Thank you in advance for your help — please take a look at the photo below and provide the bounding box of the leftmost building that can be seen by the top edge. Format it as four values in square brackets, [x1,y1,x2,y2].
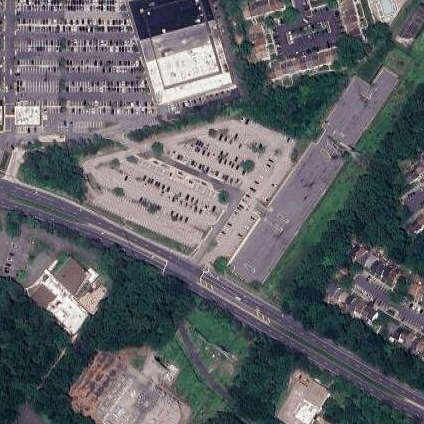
[129,0,237,106]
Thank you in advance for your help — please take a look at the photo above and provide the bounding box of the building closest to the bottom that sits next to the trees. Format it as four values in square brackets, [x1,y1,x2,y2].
[294,398,323,424]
